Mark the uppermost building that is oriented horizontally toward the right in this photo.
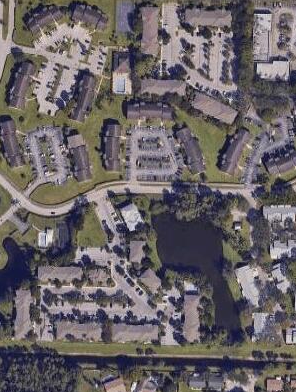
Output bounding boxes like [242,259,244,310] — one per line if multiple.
[187,9,232,26]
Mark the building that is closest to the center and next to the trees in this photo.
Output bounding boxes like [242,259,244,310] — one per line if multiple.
[122,205,143,231]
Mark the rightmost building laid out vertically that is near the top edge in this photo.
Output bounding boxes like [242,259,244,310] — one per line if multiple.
[253,14,272,61]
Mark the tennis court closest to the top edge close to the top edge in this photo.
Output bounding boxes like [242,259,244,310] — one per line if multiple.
[115,0,134,32]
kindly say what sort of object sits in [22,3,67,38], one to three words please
building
